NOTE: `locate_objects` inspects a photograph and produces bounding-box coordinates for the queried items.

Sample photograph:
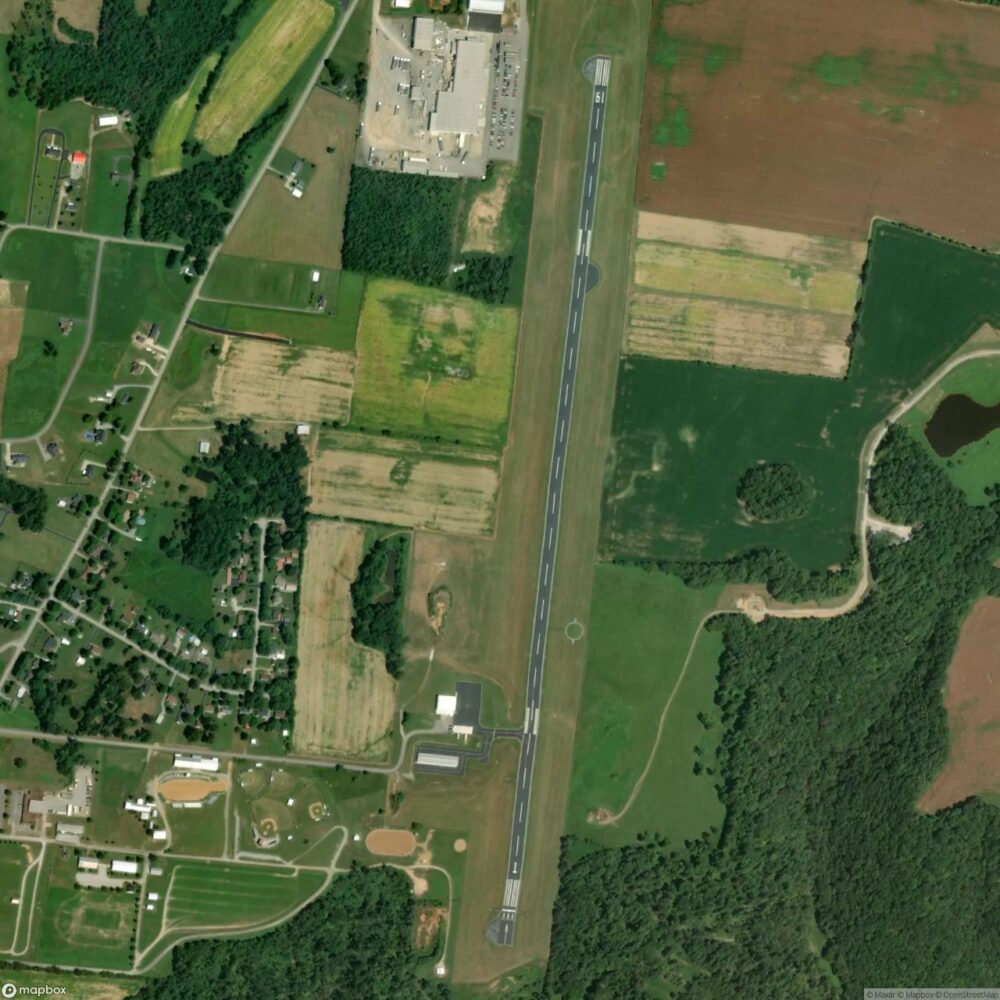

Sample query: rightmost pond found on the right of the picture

[925,394,1000,457]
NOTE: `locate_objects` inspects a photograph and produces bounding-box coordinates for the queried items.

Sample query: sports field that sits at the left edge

[40,884,134,968]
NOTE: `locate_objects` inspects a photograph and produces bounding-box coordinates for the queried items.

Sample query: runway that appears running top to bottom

[485,56,611,944]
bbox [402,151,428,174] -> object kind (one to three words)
building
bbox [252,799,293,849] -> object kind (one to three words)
baseball field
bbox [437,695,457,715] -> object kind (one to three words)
hangar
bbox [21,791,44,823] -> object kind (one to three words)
building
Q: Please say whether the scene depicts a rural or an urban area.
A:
rural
